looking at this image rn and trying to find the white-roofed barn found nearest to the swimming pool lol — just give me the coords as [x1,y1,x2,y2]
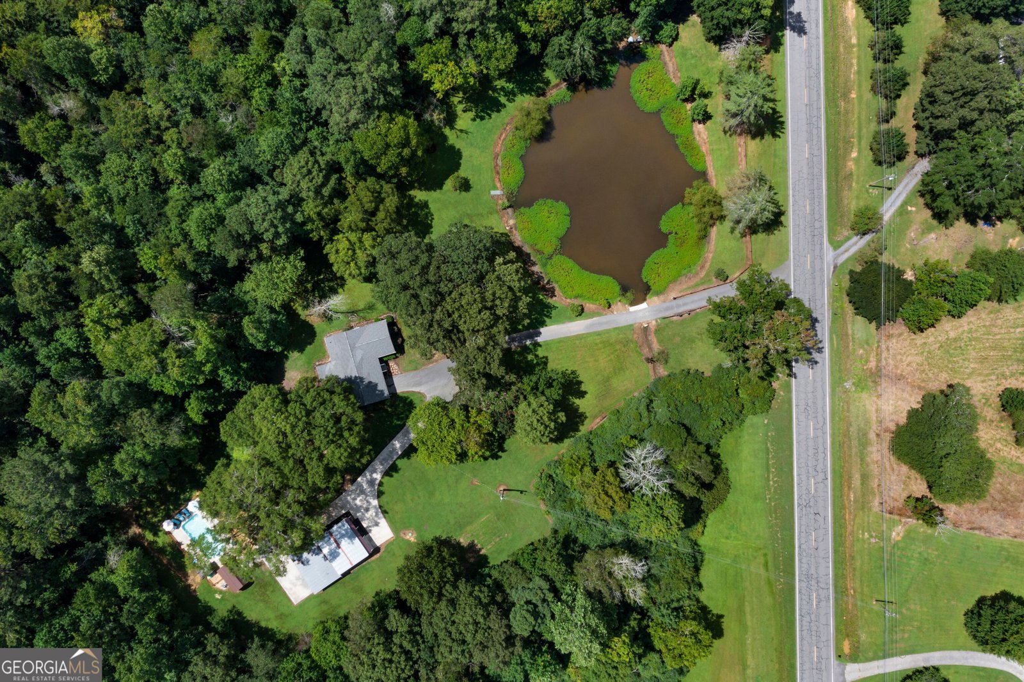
[291,512,373,594]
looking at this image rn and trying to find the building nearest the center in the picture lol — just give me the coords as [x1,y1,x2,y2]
[316,319,396,406]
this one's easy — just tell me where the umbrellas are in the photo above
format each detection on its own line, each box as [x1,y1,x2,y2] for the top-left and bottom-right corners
[163,519,175,531]
[188,500,200,512]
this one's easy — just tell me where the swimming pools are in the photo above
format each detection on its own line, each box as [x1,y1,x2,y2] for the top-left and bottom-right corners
[182,514,214,543]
